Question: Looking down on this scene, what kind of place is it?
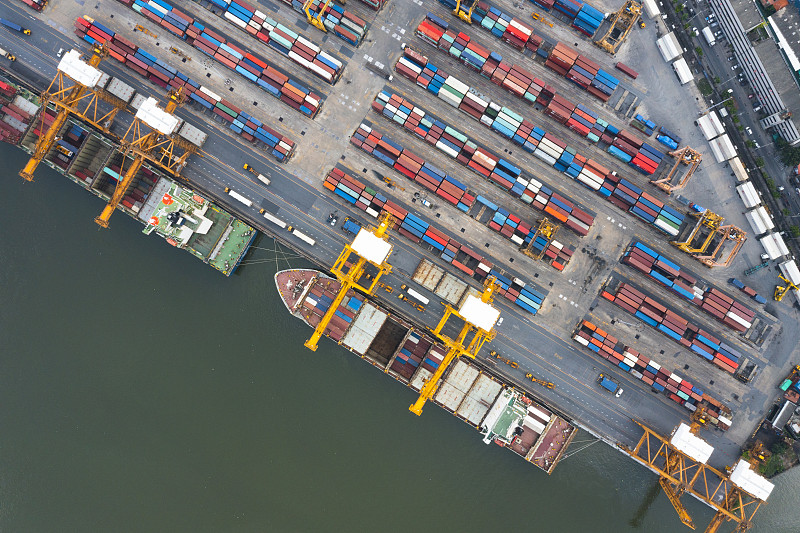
port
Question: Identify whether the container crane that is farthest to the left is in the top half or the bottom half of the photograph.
top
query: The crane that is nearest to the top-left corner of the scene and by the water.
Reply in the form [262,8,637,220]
[16,39,138,182]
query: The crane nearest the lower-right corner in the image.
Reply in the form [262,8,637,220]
[671,441,773,533]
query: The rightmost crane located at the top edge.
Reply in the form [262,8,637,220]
[595,0,647,59]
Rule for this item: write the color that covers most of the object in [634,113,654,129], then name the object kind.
blue work vehicle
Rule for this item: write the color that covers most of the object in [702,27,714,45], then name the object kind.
white vehicle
